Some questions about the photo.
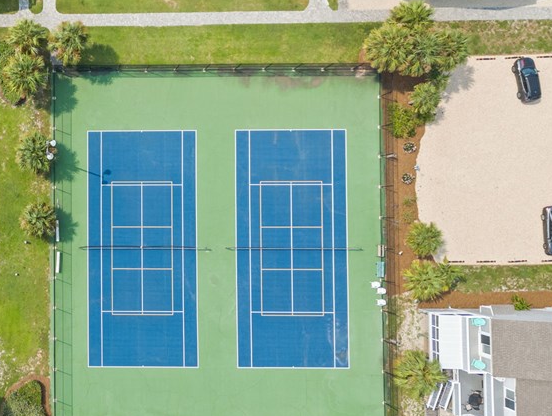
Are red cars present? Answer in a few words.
No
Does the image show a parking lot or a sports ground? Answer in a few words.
sports ground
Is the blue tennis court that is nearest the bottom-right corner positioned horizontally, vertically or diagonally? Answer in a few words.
vertically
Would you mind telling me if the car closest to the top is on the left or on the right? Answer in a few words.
right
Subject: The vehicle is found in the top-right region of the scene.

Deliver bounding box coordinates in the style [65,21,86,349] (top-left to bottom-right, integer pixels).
[513,57,544,103]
